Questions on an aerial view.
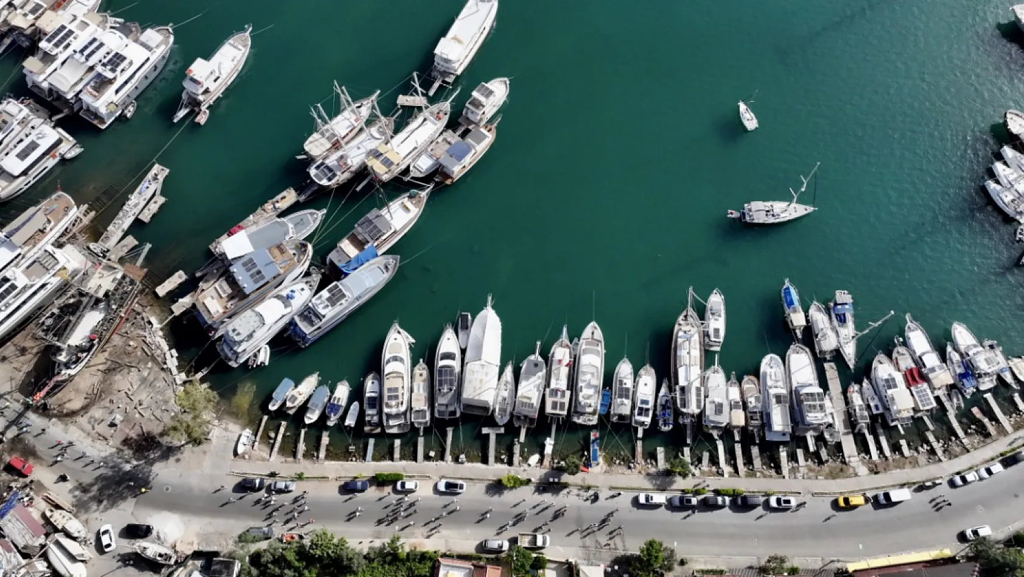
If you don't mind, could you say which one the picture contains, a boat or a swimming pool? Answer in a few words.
boat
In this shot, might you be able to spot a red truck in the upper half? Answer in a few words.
No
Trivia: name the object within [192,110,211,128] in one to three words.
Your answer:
boat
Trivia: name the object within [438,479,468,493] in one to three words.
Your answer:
car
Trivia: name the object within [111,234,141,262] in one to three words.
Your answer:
pier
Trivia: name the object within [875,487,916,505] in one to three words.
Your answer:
vehicle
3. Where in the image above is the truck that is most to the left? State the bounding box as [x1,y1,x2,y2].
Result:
[7,453,34,478]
